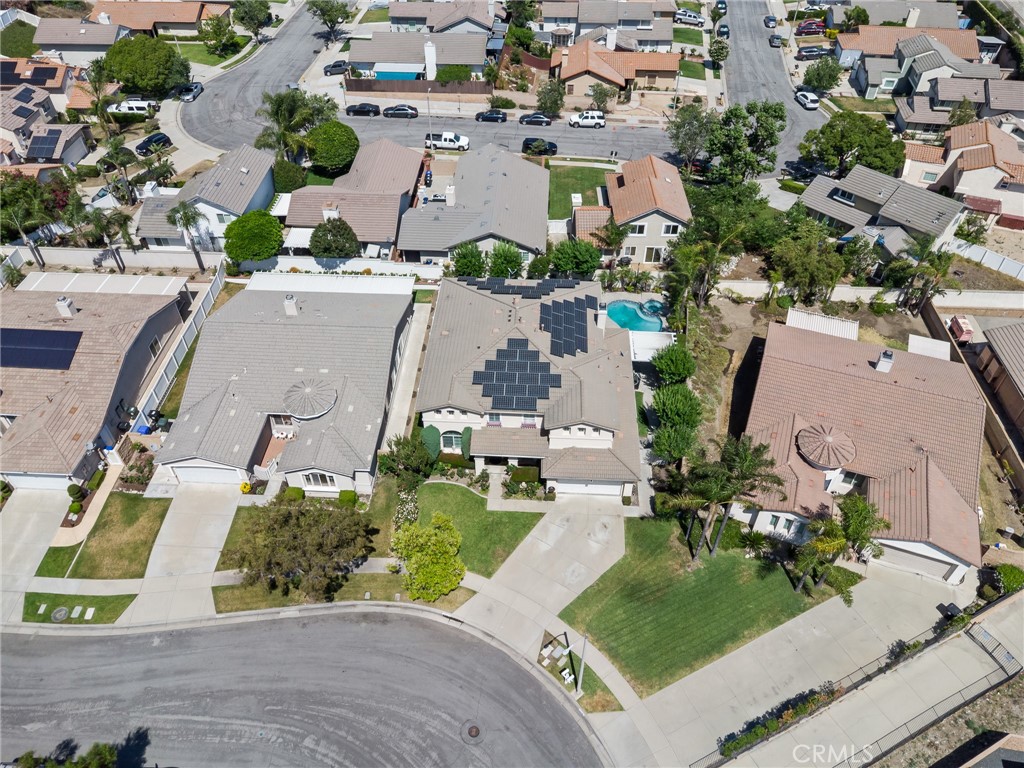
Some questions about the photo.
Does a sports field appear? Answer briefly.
No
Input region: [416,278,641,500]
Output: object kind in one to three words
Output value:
house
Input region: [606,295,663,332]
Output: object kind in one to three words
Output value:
swimming pool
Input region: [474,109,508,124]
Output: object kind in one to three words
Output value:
car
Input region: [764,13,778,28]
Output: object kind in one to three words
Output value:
car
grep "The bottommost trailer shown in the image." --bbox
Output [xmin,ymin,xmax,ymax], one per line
[945,314,976,349]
